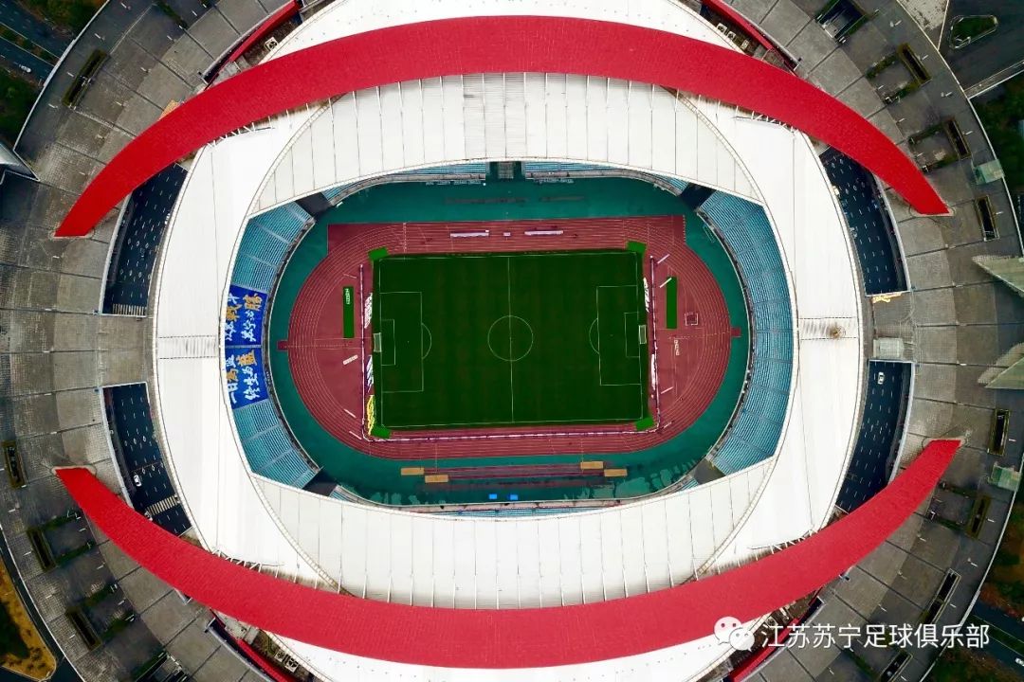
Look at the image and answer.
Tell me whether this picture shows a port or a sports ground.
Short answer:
sports ground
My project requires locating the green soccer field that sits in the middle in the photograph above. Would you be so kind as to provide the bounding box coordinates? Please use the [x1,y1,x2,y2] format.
[373,248,651,430]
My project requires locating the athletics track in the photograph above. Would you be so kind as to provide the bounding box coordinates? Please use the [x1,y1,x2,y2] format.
[278,215,740,464]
